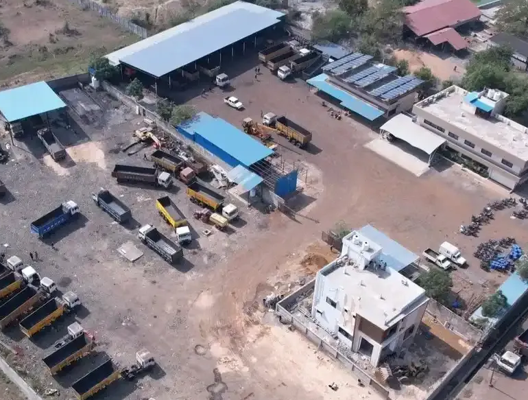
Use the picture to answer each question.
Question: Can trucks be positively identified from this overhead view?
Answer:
Yes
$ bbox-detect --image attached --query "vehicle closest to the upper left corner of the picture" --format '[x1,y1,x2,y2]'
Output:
[4,117,30,147]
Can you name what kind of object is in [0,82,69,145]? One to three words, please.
shed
